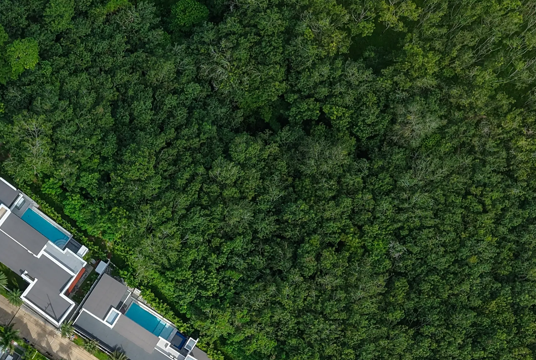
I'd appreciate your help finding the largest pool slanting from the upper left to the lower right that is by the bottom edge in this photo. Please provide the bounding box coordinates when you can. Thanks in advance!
[123,301,179,343]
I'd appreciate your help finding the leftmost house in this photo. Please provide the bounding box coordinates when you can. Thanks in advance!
[0,178,88,326]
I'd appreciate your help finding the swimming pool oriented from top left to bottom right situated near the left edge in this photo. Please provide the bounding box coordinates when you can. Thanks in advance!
[19,205,74,251]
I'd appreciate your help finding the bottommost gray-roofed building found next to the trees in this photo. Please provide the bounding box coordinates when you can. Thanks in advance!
[72,274,198,360]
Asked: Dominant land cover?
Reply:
trees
